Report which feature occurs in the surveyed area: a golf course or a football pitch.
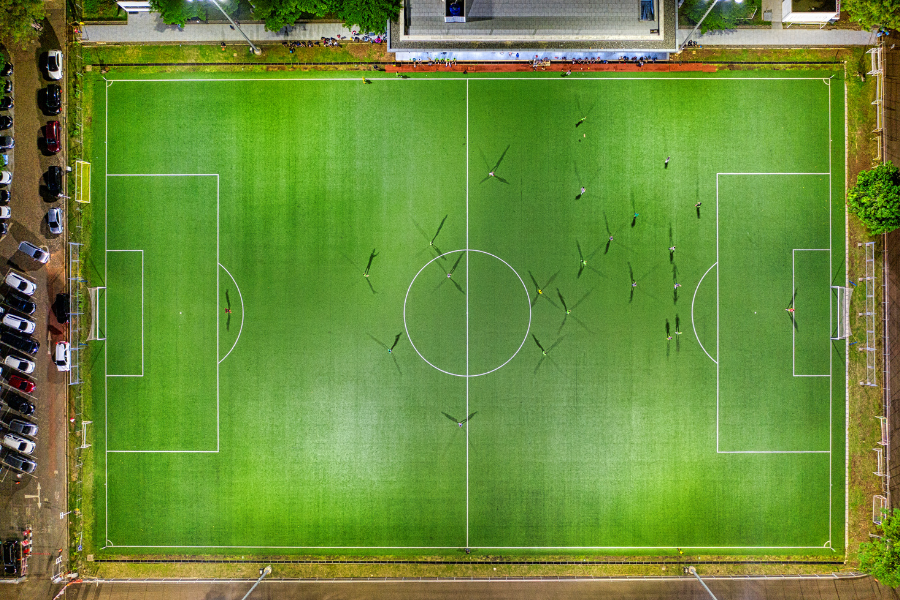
football pitch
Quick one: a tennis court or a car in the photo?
car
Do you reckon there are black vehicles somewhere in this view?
Yes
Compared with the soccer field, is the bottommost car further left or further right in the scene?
left of it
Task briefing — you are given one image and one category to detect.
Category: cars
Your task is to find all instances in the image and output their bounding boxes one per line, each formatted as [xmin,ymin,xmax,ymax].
[53,293,72,324]
[54,341,72,371]
[0,114,15,131]
[5,451,40,474]
[8,372,39,394]
[0,380,6,394]
[0,539,20,575]
[5,272,39,295]
[2,312,38,336]
[4,352,37,375]
[4,391,39,415]
[4,432,39,456]
[18,241,50,264]
[0,77,14,94]
[0,63,15,78]
[0,222,10,235]
[8,416,40,437]
[45,121,63,153]
[47,208,64,235]
[47,51,64,81]
[0,205,13,220]
[0,95,16,111]
[46,165,64,197]
[0,330,40,356]
[45,83,63,115]
[0,154,10,167]
[0,134,16,150]
[0,170,14,185]
[5,293,39,315]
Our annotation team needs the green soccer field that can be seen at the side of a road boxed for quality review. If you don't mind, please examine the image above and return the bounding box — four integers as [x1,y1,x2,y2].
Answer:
[92,72,846,555]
